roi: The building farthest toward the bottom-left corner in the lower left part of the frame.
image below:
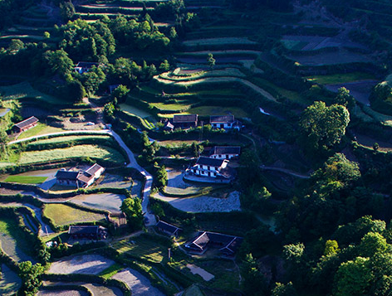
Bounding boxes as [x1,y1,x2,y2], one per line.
[64,226,116,243]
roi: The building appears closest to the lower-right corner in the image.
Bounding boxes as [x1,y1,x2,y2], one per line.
[184,230,257,261]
